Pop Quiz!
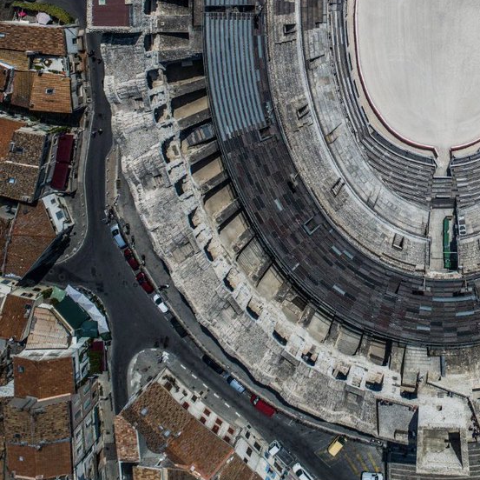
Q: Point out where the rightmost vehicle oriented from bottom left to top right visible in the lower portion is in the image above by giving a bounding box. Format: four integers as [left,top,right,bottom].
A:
[326,431,350,463]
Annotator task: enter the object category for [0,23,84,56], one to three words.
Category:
house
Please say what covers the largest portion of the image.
buildings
